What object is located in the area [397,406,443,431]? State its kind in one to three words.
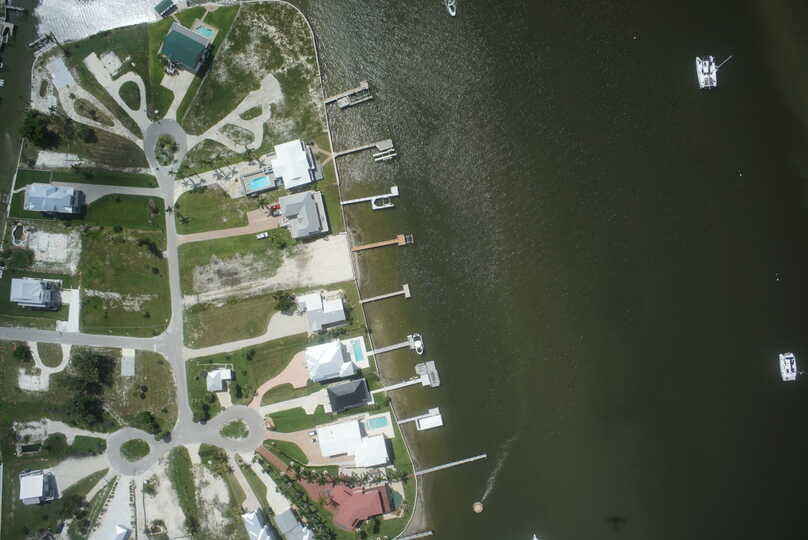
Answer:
pier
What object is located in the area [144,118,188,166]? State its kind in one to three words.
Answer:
roundabout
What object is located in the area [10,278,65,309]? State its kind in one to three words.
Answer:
house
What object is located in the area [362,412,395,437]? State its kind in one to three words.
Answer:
swimming pool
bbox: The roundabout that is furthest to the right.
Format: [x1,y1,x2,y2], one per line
[208,404,264,458]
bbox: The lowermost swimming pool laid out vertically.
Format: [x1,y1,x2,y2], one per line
[387,480,403,510]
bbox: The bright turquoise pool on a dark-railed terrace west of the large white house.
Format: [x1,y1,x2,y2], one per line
[241,167,276,194]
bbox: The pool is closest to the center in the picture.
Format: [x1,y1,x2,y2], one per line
[345,336,369,367]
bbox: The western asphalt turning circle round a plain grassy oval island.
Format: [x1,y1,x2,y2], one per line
[107,428,156,475]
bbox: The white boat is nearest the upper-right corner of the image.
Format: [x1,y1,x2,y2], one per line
[698,55,728,89]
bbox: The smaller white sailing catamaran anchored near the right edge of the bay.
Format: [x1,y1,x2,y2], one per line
[780,353,808,383]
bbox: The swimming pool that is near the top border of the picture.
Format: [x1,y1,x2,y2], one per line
[192,19,218,43]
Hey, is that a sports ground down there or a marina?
marina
